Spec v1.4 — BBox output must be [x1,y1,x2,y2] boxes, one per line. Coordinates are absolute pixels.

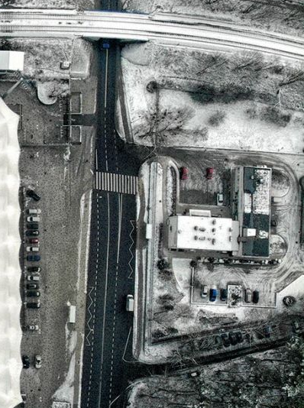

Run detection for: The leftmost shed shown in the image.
[0,49,24,73]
